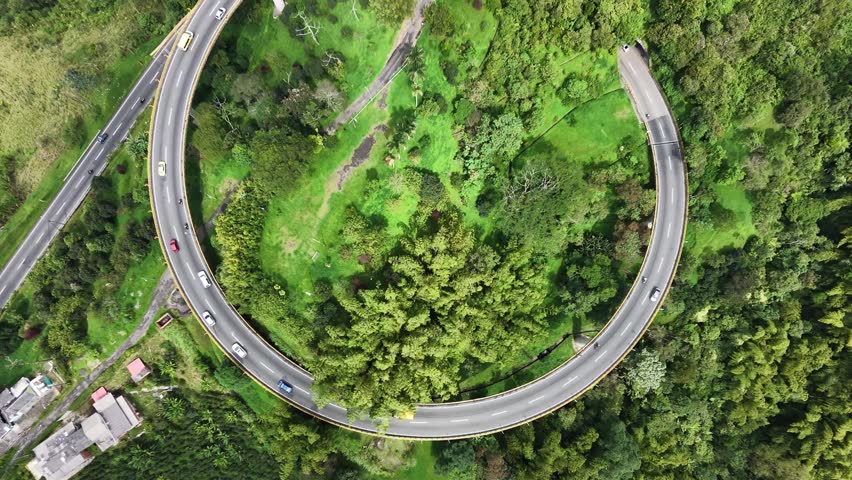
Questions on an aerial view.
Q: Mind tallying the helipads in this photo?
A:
0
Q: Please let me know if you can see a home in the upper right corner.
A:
No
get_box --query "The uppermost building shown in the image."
[126,356,153,383]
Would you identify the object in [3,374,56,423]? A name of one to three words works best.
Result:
house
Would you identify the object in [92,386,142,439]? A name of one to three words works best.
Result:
house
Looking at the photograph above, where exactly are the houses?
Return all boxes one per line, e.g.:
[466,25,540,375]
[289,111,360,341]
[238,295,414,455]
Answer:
[25,421,95,480]
[92,386,142,439]
[126,356,153,383]
[3,374,56,423]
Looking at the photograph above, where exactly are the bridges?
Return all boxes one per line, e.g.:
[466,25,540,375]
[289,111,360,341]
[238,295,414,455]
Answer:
[142,0,692,444]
